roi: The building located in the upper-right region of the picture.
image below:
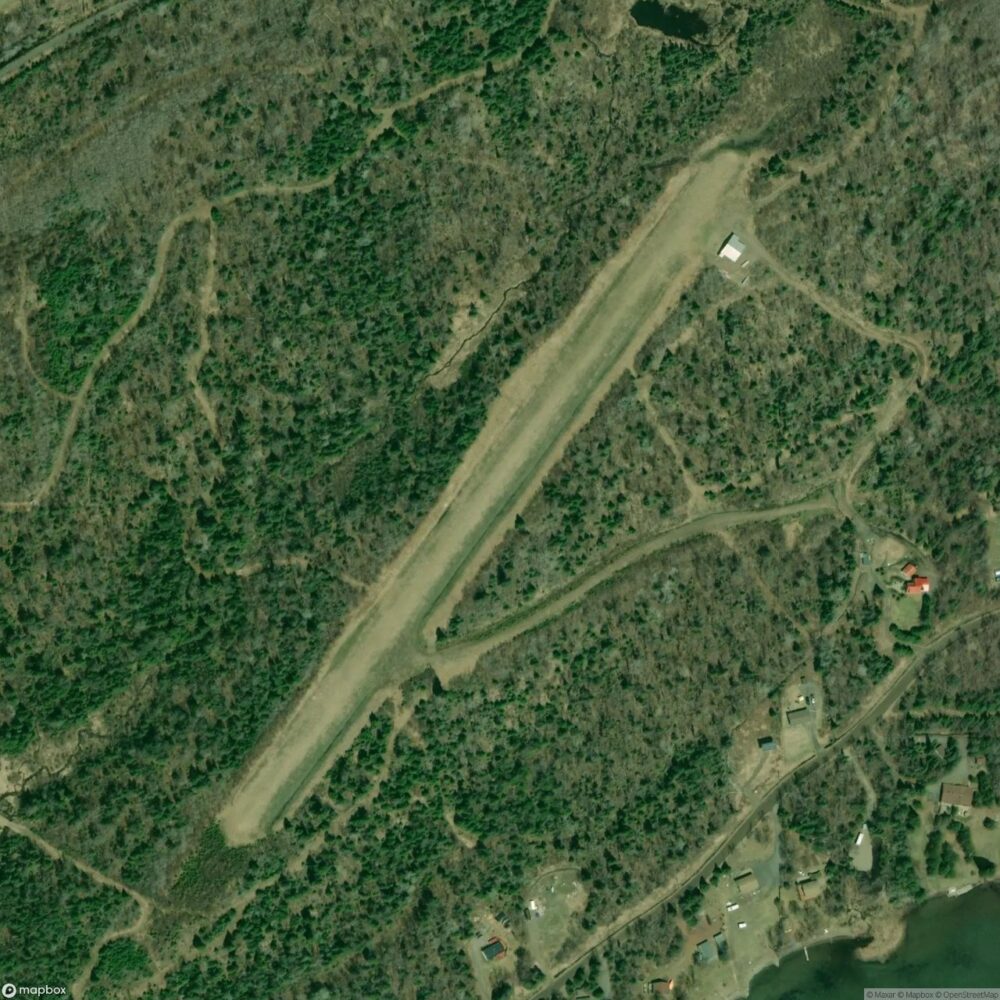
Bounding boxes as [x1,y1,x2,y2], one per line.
[716,232,745,262]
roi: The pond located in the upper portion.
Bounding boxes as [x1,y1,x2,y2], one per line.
[630,0,710,39]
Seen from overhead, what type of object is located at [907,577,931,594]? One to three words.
house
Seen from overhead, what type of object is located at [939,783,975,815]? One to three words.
house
